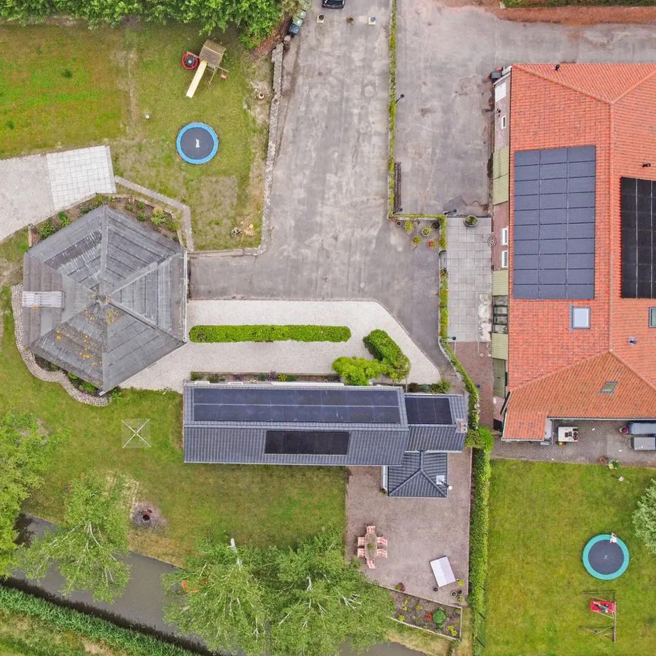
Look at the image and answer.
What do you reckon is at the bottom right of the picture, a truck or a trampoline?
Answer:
trampoline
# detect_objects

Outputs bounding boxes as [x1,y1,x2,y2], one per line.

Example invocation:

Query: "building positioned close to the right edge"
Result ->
[492,61,656,443]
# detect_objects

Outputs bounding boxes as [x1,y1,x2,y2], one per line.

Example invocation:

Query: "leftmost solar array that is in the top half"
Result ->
[513,145,597,300]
